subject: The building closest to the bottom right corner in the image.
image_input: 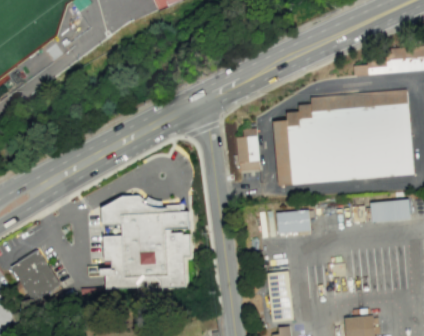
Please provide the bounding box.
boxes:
[344,314,380,336]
